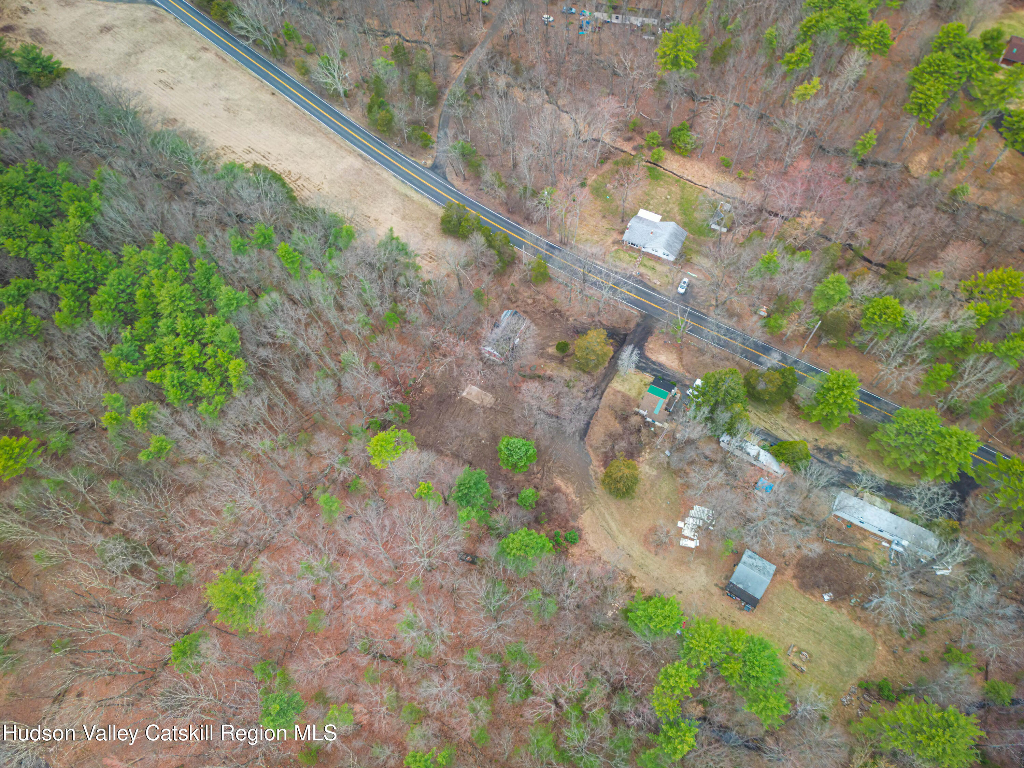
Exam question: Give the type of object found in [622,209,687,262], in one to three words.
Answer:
house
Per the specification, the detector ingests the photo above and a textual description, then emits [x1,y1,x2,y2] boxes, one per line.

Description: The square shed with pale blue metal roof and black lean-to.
[722,549,776,608]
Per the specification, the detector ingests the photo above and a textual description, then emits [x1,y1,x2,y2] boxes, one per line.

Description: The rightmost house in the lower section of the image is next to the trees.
[833,492,940,557]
